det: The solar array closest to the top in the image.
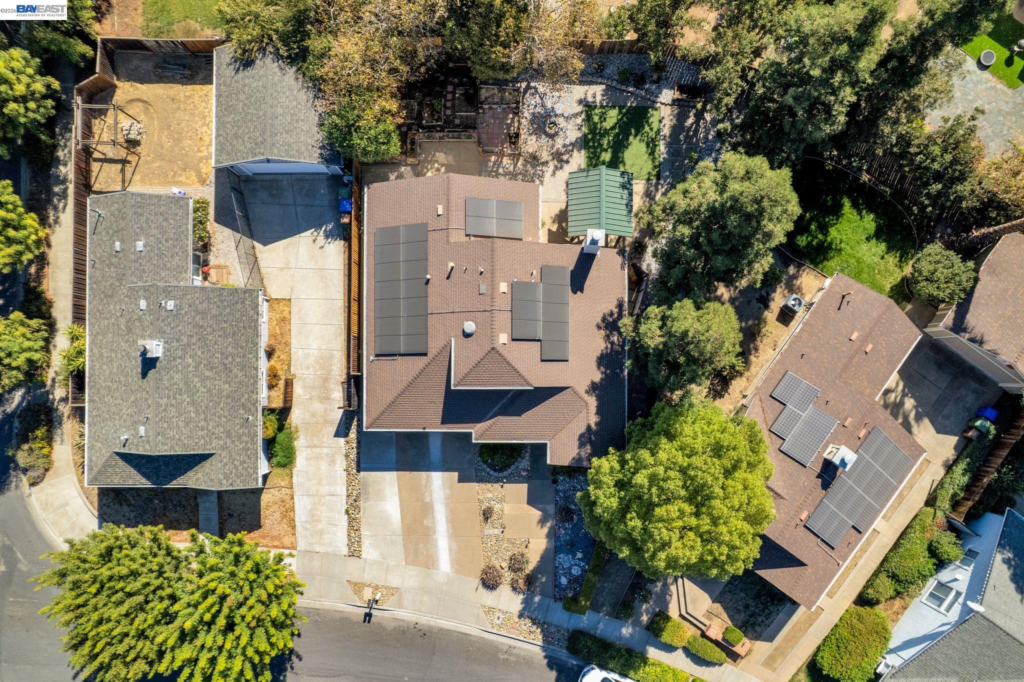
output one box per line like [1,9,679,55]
[466,197,523,238]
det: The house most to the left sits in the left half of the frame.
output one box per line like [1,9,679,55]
[81,190,274,488]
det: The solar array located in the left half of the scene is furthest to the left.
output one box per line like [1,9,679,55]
[375,223,428,354]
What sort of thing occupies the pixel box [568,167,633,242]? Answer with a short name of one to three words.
building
